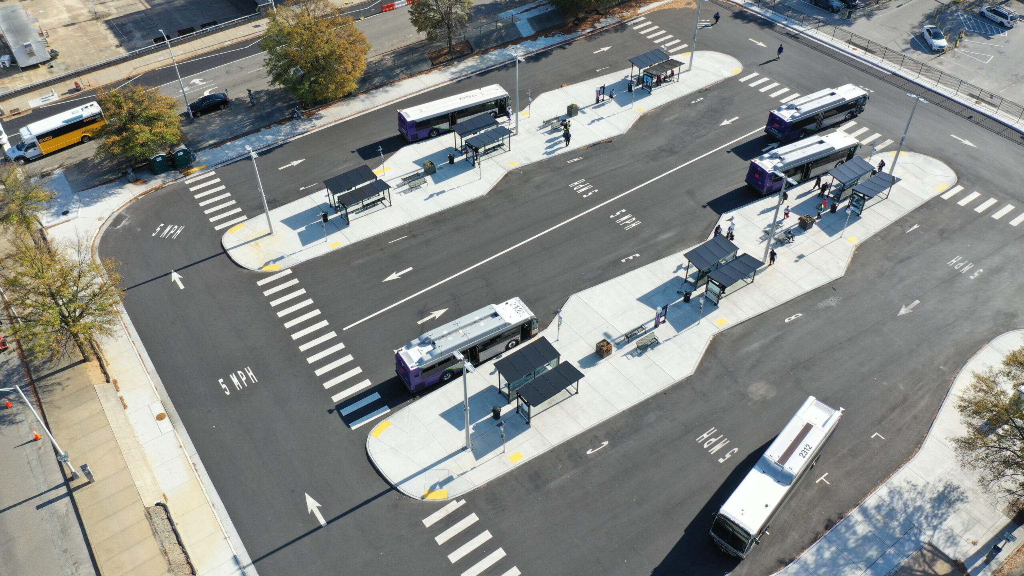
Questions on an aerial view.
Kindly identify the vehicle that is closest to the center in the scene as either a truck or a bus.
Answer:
bus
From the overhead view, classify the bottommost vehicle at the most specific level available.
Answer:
bus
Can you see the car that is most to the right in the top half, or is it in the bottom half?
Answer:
top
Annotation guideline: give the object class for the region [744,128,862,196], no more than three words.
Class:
bus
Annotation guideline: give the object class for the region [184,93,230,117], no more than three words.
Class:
car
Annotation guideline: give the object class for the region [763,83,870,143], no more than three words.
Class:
bus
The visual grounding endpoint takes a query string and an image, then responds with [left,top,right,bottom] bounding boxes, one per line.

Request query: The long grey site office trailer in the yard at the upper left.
[0,1,47,66]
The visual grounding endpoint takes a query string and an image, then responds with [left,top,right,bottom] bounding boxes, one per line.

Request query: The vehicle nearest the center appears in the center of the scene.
[388,296,538,395]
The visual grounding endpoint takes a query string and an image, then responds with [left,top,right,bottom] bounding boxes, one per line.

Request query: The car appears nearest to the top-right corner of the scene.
[980,3,1021,27]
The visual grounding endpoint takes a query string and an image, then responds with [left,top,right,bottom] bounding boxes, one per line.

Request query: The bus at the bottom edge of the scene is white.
[706,397,847,561]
